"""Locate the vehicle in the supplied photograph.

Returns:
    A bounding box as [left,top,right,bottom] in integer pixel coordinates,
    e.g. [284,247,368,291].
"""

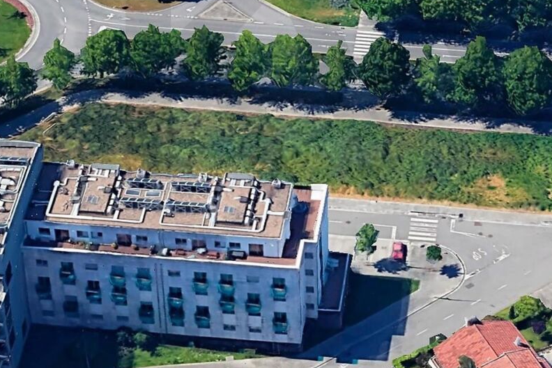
[393,241,406,263]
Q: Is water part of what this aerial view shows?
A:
No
